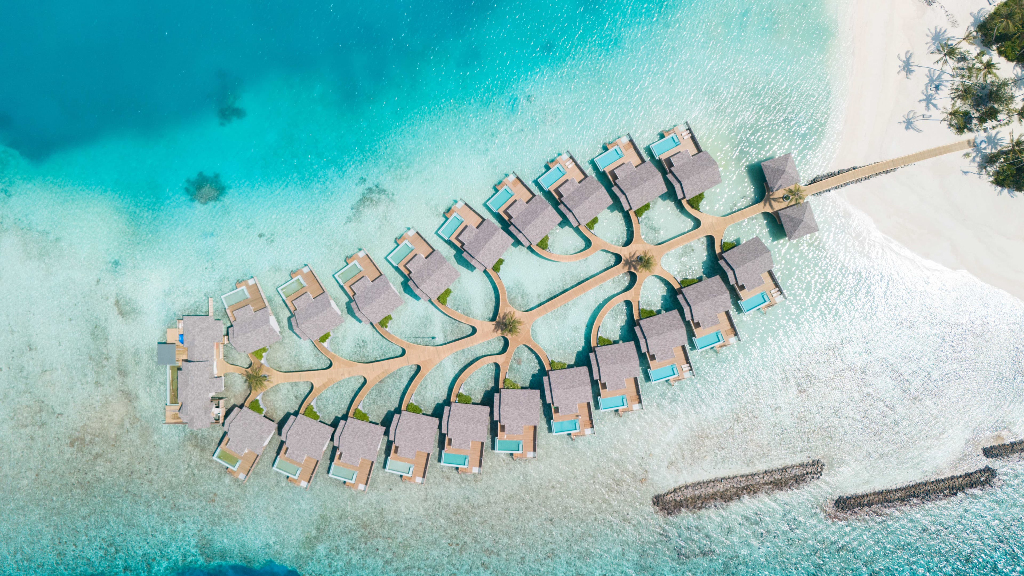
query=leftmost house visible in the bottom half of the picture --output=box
[161,299,230,428]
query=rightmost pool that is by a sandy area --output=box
[736,290,769,314]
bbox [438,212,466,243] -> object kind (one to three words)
swimming pool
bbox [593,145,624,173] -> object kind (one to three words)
swimming pool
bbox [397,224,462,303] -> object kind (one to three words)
house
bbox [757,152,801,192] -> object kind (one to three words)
building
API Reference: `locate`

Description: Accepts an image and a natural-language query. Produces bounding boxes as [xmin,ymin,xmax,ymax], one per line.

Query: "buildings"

[495,389,540,460]
[397,224,462,303]
[390,410,440,488]
[635,309,696,384]
[279,412,337,492]
[496,169,563,248]
[227,273,286,354]
[220,406,282,486]
[334,417,386,494]
[677,275,742,351]
[590,340,644,413]
[757,152,801,192]
[446,196,515,273]
[603,131,667,211]
[342,246,404,326]
[161,299,230,428]
[284,262,344,343]
[544,366,596,438]
[658,120,722,200]
[718,236,788,312]
[548,149,613,228]
[442,402,490,477]
[778,201,819,241]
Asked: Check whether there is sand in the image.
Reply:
Yes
